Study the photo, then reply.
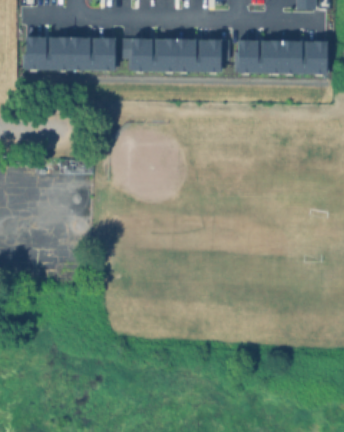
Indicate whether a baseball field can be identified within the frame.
Yes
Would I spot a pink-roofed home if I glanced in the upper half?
No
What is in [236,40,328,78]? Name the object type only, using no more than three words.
house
